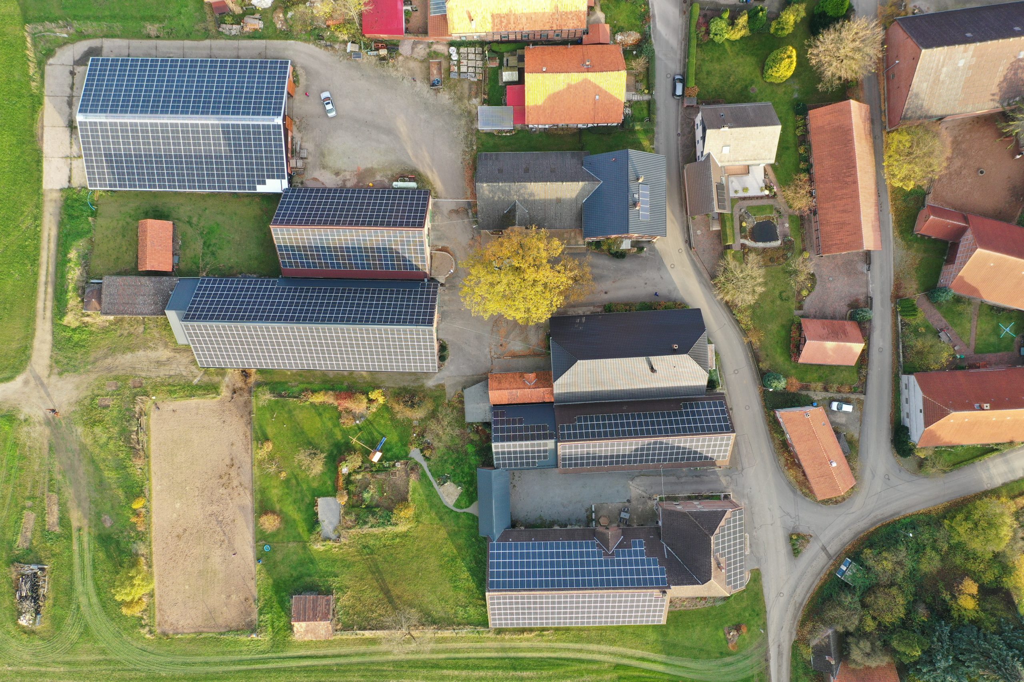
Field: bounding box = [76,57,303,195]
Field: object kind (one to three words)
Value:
barn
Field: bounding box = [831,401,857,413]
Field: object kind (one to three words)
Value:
vehicle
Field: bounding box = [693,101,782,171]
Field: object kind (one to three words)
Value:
house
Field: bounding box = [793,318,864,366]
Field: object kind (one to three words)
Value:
building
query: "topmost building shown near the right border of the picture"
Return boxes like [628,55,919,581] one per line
[882,0,1024,126]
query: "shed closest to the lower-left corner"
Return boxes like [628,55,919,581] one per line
[291,592,335,640]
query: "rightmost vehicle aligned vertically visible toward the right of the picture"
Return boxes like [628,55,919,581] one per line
[673,72,686,98]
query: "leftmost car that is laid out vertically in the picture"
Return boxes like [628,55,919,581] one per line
[320,89,336,117]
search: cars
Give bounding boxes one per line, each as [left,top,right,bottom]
[673,72,686,98]
[320,89,336,117]
[831,401,857,413]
